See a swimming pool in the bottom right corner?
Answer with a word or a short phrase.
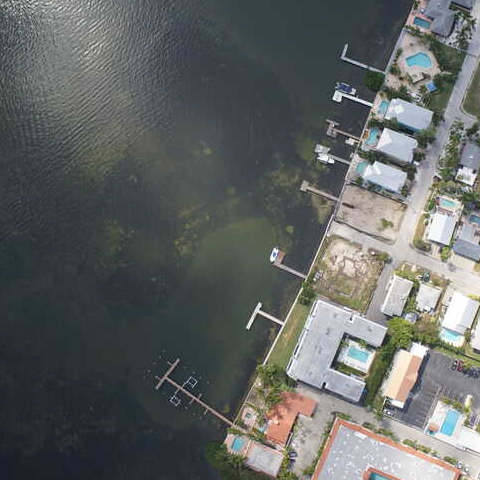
Yes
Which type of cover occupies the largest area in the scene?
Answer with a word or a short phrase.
water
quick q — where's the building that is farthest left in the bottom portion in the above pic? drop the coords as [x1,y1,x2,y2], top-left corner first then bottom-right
[246,439,283,476]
